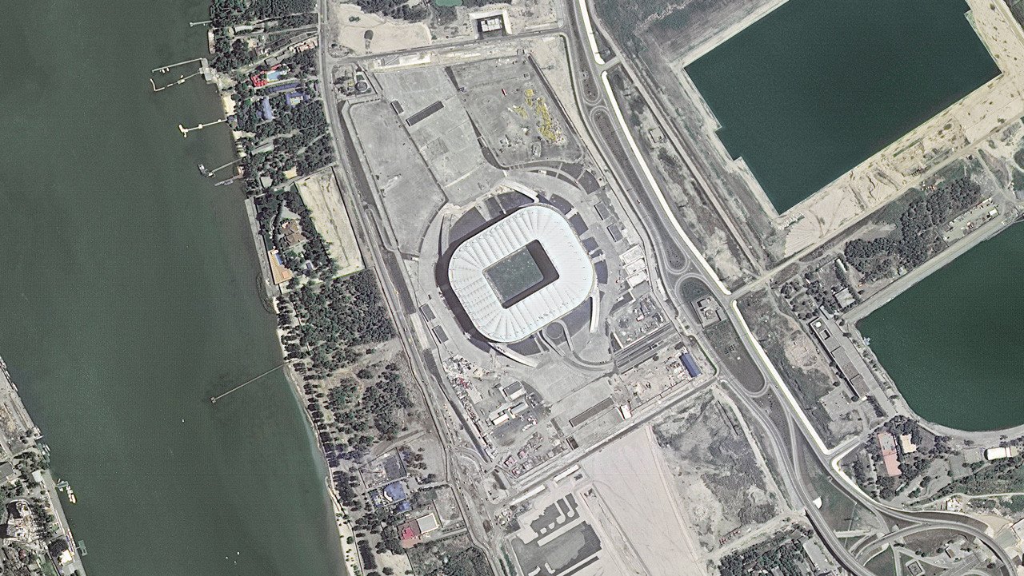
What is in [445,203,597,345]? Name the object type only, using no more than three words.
stadium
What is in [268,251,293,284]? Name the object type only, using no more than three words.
house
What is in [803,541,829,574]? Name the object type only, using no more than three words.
building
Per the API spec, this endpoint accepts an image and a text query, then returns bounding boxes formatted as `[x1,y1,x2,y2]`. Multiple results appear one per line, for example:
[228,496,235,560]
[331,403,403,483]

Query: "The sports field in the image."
[487,243,556,305]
